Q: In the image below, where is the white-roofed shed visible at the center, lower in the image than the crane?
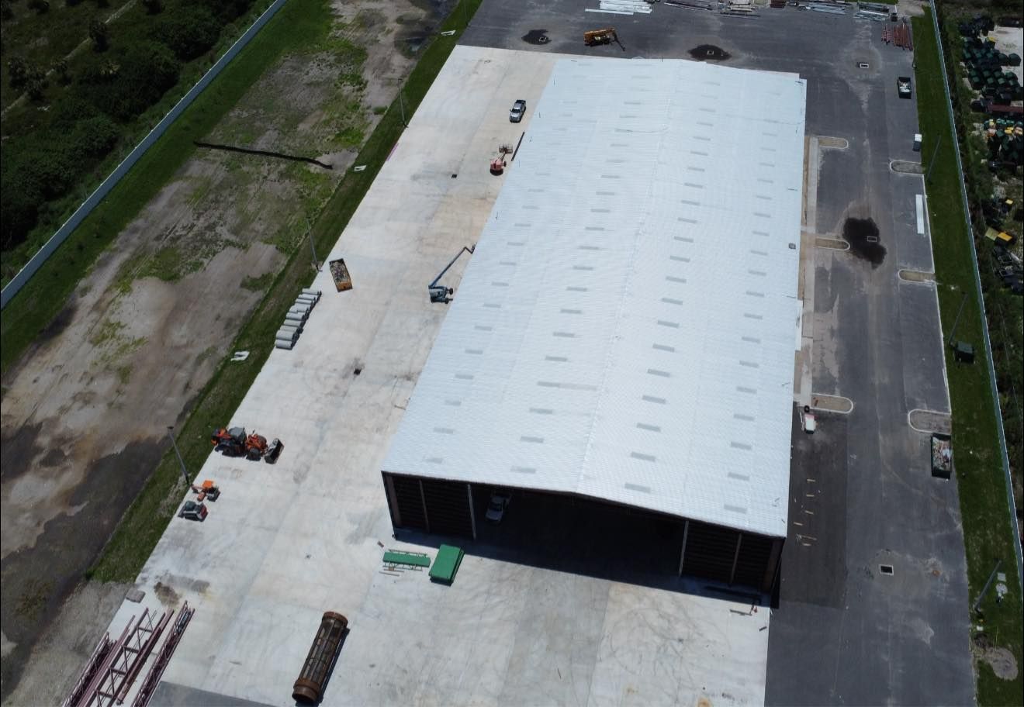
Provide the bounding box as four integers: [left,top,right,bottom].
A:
[380,59,807,591]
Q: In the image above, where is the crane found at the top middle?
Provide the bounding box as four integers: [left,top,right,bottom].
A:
[585,23,625,49]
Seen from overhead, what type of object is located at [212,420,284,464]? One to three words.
work vehicle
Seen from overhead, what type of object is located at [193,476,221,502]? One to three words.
work vehicle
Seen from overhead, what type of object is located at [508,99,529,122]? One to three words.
truck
